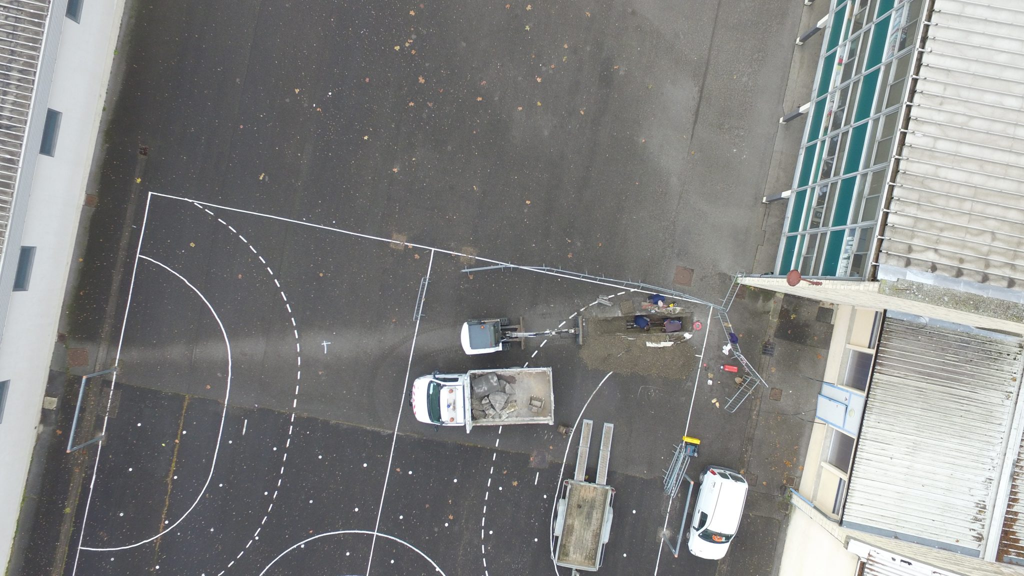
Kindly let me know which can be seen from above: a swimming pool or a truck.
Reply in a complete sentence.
Looking from above, you can make out a truck.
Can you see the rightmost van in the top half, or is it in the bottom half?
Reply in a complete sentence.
The rightmost van sits in the bottom half of the picture.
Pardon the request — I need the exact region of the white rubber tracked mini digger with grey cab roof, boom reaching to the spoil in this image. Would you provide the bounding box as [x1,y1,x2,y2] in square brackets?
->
[461,315,585,357]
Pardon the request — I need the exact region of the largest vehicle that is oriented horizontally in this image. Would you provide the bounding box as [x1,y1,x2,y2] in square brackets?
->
[407,365,556,432]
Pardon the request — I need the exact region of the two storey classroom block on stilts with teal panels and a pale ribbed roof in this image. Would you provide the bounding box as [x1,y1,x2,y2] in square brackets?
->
[738,0,1024,337]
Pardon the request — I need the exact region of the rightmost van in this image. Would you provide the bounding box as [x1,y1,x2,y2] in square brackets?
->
[685,463,752,564]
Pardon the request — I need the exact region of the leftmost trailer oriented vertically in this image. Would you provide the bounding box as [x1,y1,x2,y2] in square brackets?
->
[553,425,617,576]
